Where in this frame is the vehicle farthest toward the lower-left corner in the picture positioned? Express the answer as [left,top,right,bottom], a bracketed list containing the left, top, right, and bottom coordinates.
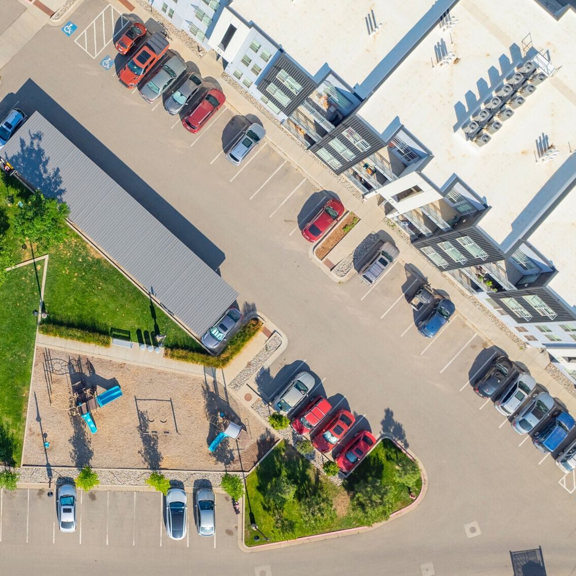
[56,483,78,532]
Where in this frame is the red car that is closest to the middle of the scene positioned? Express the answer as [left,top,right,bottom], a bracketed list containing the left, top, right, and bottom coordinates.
[299,198,345,245]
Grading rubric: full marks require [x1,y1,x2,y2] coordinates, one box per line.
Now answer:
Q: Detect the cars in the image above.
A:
[268,369,315,418]
[140,55,187,105]
[332,427,378,474]
[528,408,576,456]
[179,87,226,137]
[508,389,554,436]
[289,391,336,438]
[489,372,536,418]
[162,70,206,117]
[403,279,440,317]
[299,198,345,245]
[223,123,265,167]
[355,242,400,286]
[0,105,30,150]
[469,354,515,401]
[198,304,246,352]
[549,430,576,475]
[56,483,78,532]
[164,487,190,539]
[194,486,217,536]
[412,296,456,341]
[310,407,358,455]
[110,19,150,61]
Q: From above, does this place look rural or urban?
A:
urban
